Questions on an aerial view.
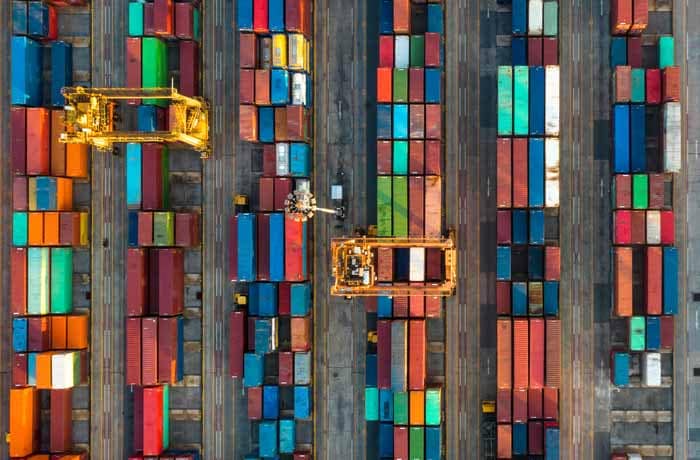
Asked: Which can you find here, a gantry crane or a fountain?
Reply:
gantry crane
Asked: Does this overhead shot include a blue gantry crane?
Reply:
No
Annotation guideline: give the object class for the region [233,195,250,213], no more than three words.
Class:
vehicle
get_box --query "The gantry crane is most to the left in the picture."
[58,72,209,159]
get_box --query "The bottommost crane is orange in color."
[333,224,457,298]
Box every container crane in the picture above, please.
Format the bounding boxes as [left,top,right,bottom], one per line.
[333,224,457,298]
[58,72,209,159]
